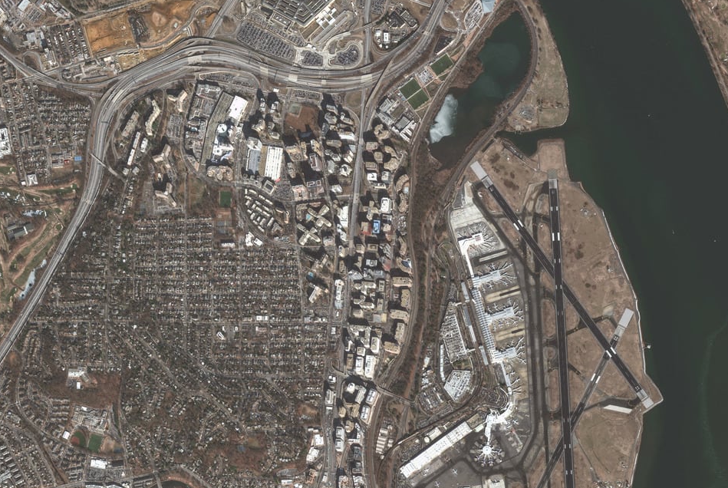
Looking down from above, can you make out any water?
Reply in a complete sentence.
Yes, some water is visible.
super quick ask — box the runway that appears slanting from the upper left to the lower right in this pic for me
[474,163,652,407]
